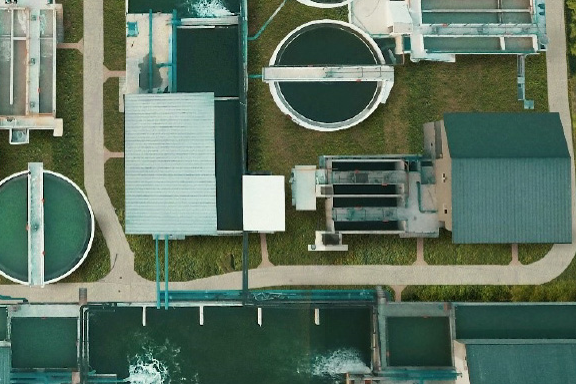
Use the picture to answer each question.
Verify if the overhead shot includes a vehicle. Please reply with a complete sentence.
No, the frame has no vehicle in it.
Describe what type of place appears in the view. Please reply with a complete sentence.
What you see here is an industrial area.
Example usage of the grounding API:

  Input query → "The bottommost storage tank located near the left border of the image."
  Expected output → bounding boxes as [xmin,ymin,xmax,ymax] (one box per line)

[0,163,94,287]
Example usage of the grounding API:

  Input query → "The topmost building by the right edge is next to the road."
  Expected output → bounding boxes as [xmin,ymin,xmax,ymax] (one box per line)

[418,113,576,243]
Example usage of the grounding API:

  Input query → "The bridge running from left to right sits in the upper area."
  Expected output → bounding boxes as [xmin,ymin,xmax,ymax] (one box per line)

[260,66,395,83]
